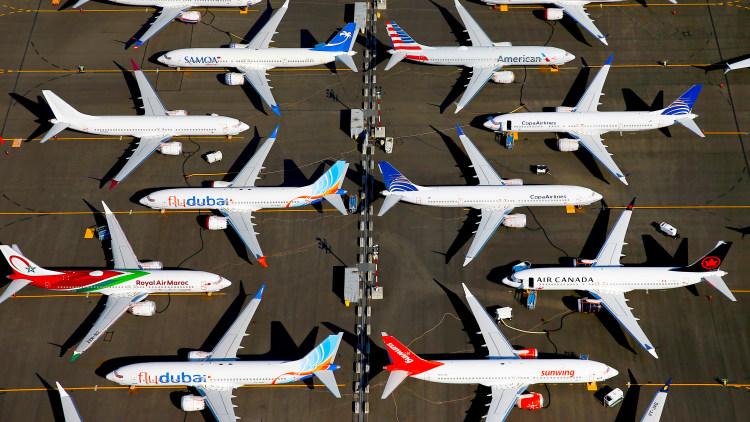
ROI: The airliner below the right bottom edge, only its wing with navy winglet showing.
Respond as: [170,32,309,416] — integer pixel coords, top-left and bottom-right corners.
[646,381,675,422]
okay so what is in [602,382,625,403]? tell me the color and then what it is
white vehicle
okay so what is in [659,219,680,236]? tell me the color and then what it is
white vehicle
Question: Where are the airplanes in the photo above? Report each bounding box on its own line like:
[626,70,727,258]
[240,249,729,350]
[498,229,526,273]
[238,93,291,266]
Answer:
[483,54,704,185]
[378,123,604,267]
[157,0,360,114]
[385,0,576,113]
[724,56,750,73]
[75,0,261,49]
[139,124,349,267]
[41,59,248,188]
[485,0,627,47]
[502,197,735,358]
[382,282,620,422]
[646,381,675,422]
[107,284,344,422]
[0,201,230,360]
